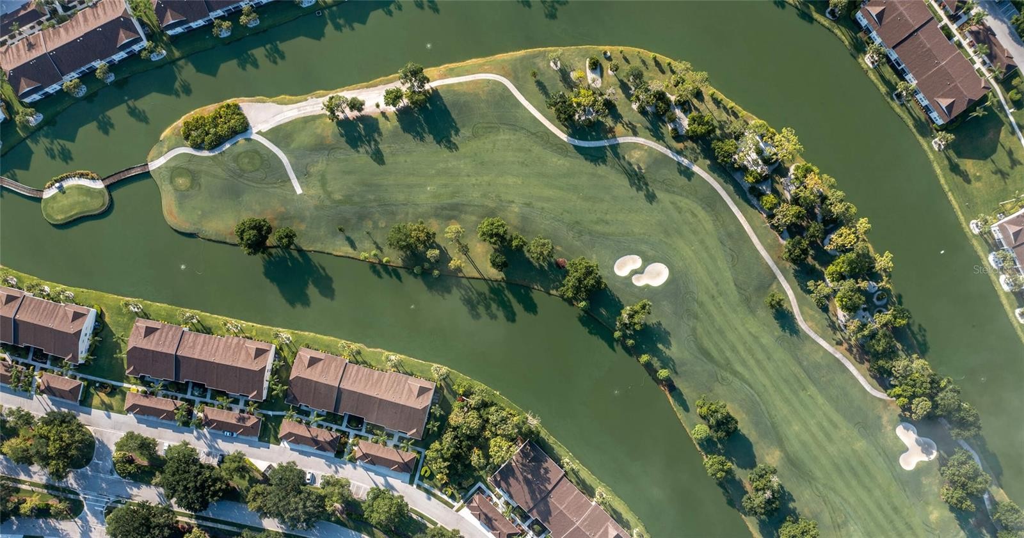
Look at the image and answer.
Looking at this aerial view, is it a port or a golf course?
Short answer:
golf course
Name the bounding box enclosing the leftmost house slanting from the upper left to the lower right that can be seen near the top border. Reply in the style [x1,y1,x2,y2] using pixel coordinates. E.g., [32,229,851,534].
[843,0,991,126]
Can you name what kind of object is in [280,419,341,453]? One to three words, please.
building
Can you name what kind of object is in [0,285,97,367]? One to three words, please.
house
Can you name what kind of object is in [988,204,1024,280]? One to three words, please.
house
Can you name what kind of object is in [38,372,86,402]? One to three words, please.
building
